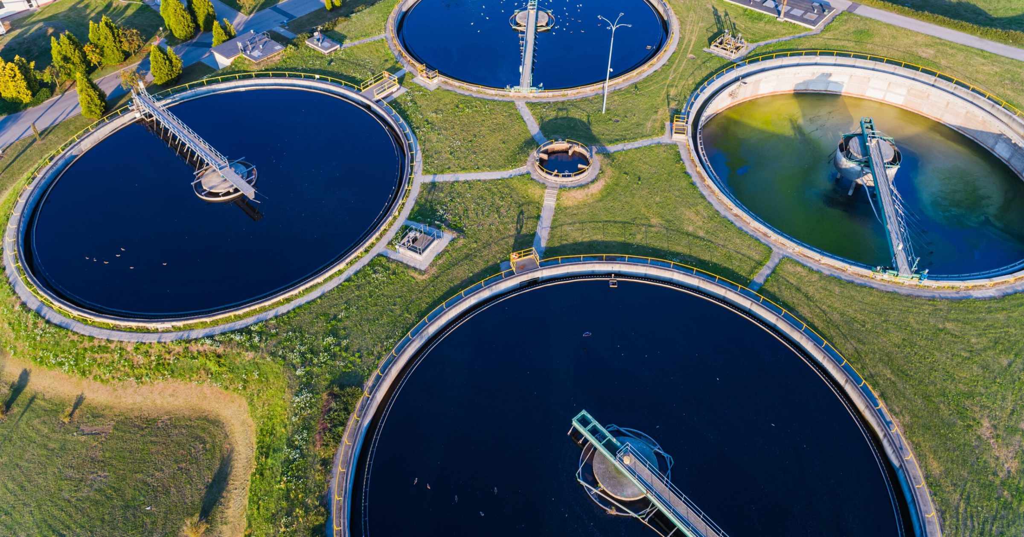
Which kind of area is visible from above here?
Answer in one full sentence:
This image shows an industrial area.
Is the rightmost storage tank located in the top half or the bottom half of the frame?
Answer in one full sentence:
The rightmost storage tank is in the top half of the image.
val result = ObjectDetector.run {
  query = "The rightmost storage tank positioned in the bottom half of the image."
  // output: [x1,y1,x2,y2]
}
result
[330,252,947,537]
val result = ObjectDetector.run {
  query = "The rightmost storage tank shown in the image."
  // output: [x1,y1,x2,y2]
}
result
[679,49,1024,290]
